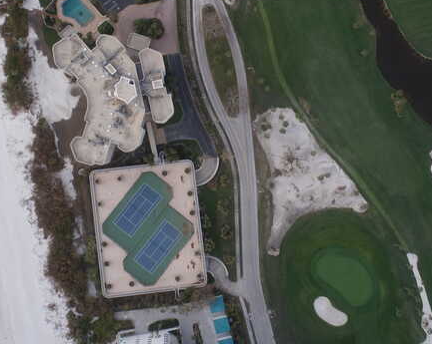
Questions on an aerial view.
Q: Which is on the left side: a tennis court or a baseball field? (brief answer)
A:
tennis court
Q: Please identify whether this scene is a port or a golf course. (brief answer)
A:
golf course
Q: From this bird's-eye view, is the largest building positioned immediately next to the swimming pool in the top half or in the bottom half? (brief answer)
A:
top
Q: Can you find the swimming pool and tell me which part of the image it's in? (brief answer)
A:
top left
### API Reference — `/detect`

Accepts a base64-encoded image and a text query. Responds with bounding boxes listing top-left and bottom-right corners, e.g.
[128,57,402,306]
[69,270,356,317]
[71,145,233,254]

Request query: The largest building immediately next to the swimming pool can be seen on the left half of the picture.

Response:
[53,33,148,164]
